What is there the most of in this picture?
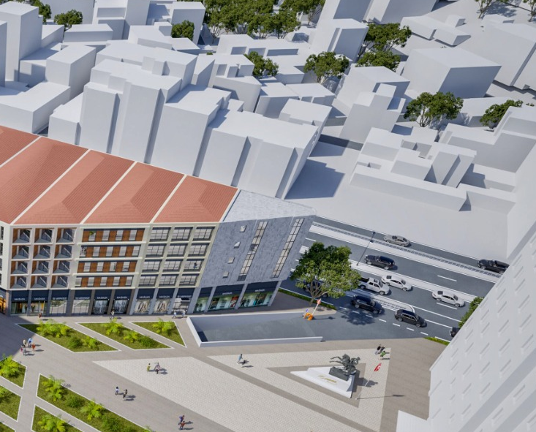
buildings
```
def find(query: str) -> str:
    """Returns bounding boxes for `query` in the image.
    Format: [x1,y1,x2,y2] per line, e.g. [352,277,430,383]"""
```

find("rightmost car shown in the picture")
[478,258,509,272]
